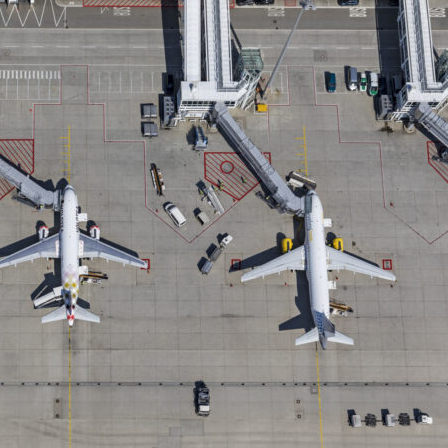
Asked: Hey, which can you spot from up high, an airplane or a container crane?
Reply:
airplane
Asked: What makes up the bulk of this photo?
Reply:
paved ground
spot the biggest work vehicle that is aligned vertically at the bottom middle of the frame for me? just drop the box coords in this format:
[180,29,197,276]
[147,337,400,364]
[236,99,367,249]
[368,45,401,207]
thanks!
[197,385,211,414]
